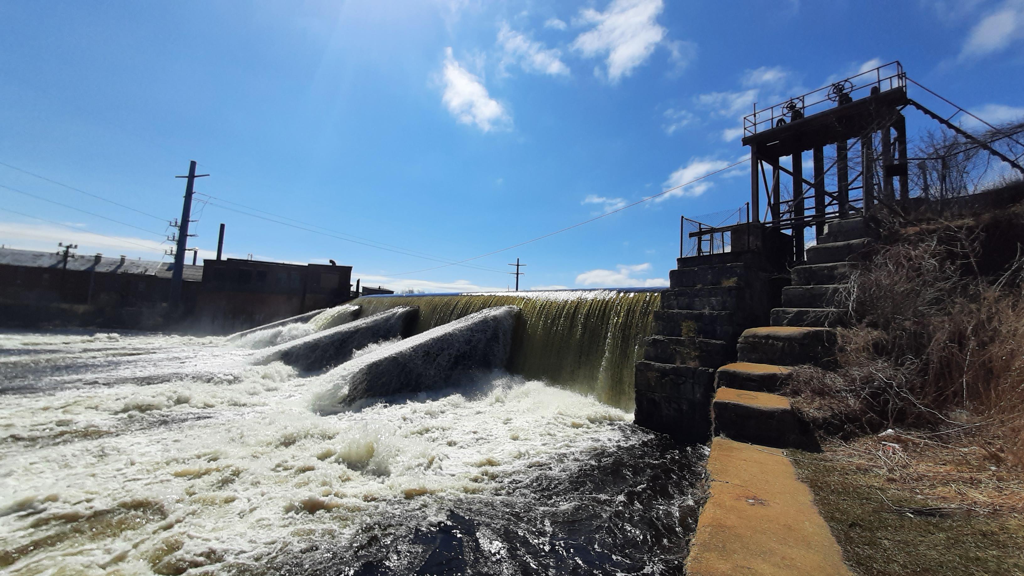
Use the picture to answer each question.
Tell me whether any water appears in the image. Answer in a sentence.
Yes, some water is visible.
